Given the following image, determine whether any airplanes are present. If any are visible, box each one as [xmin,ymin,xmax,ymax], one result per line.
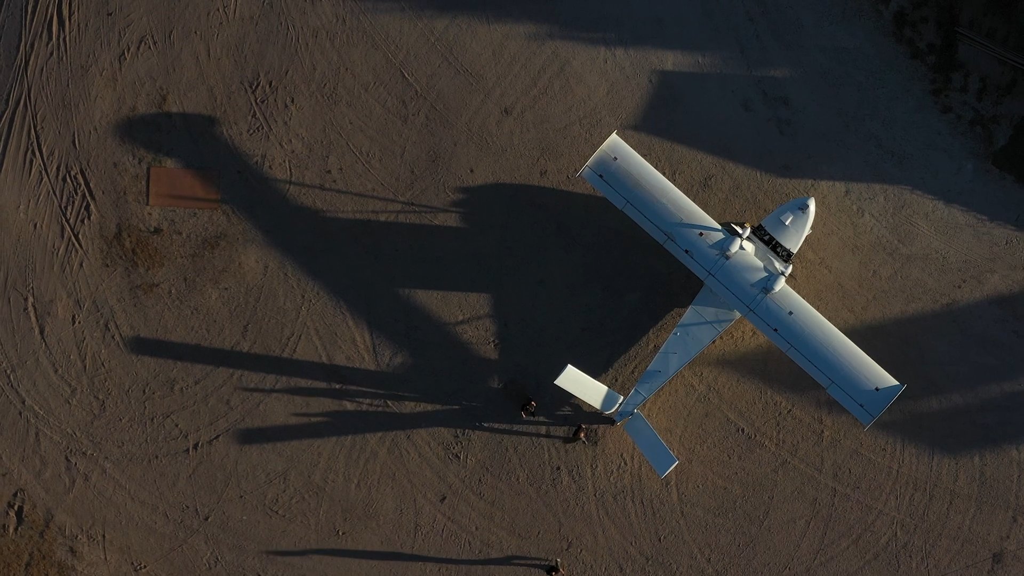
[555,129,911,478]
